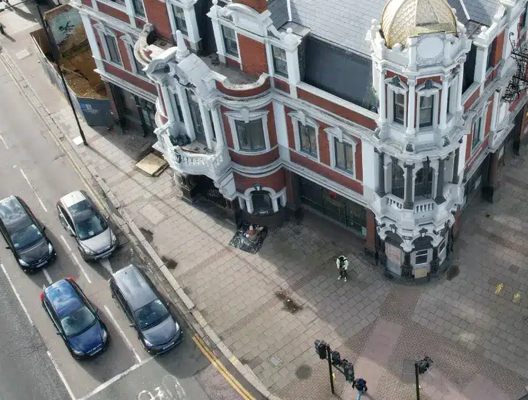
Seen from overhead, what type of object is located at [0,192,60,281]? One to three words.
car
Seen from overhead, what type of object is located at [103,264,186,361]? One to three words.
car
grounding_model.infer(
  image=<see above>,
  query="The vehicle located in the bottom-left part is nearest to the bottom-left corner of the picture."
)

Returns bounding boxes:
[33,270,112,368]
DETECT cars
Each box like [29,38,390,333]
[52,188,123,269]
[0,192,60,281]
[103,264,186,361]
[33,270,112,368]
